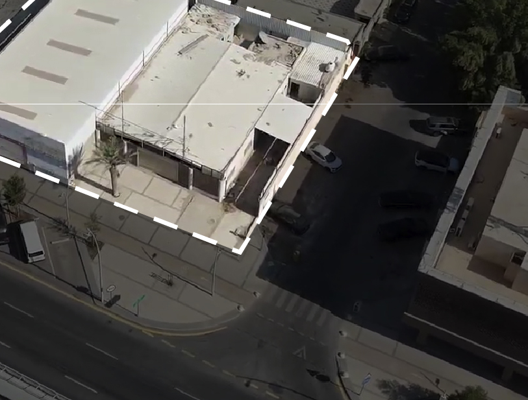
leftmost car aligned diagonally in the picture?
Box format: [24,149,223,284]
[266,199,312,237]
